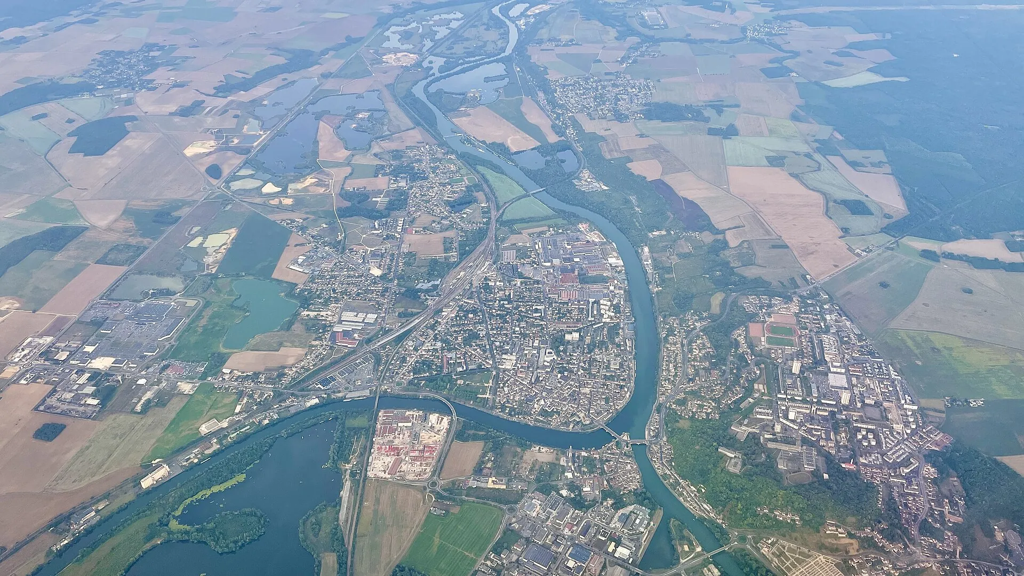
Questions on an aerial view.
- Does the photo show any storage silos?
Yes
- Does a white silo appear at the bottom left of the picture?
Yes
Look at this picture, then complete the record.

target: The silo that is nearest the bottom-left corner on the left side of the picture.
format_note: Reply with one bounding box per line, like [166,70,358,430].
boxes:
[137,461,171,488]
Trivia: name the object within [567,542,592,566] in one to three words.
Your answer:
building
